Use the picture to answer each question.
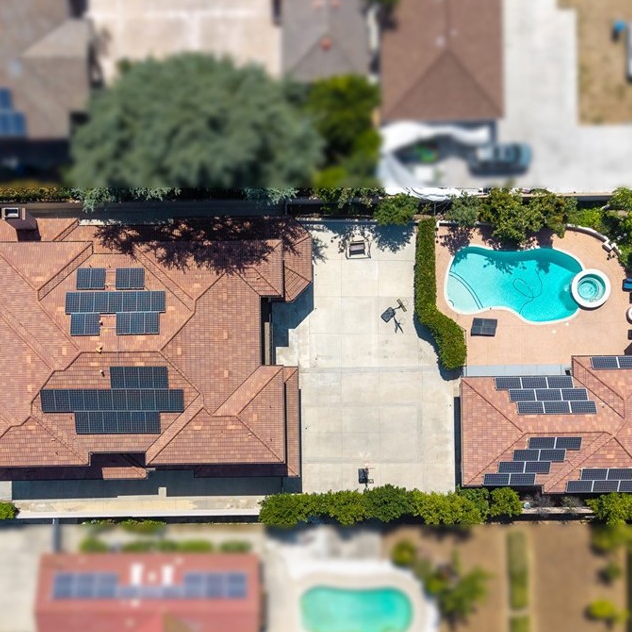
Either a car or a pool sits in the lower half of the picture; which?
pool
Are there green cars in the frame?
No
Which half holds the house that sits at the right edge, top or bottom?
bottom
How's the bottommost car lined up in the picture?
from side to side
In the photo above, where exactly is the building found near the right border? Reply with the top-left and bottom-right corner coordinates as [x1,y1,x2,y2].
[459,355,632,494]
